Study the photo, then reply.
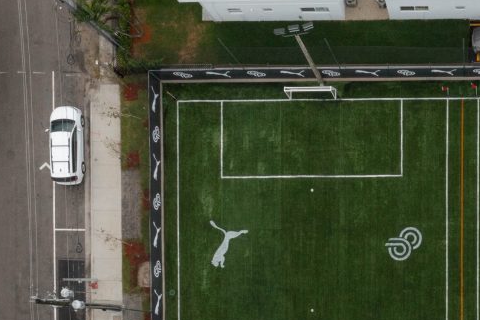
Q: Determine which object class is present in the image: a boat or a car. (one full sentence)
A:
Looking from above, you can make out a car.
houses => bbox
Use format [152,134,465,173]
[177,0,344,20]
[383,0,480,20]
